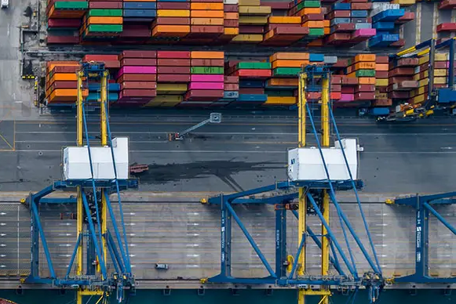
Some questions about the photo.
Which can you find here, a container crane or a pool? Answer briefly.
container crane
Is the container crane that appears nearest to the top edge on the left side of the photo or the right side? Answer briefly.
right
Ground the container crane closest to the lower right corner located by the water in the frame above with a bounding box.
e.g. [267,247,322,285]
[388,189,456,283]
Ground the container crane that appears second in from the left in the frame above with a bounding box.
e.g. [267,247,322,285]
[201,54,388,304]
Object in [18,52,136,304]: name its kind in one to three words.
container crane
